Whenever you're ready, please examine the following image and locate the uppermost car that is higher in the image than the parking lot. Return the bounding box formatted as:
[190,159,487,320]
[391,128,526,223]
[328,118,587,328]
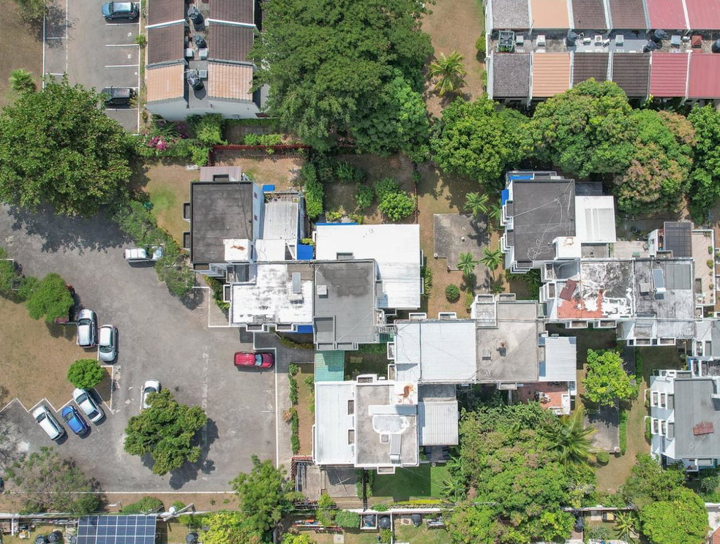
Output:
[103,1,139,22]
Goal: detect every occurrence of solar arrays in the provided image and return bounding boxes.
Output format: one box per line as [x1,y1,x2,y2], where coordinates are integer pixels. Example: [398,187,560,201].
[74,515,160,544]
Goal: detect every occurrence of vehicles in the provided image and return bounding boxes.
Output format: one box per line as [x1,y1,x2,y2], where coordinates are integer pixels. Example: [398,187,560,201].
[103,88,136,106]
[98,325,118,362]
[234,350,275,369]
[35,405,66,442]
[62,403,90,439]
[74,391,105,425]
[77,310,97,347]
[103,1,139,22]
[122,246,163,264]
[142,381,161,400]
